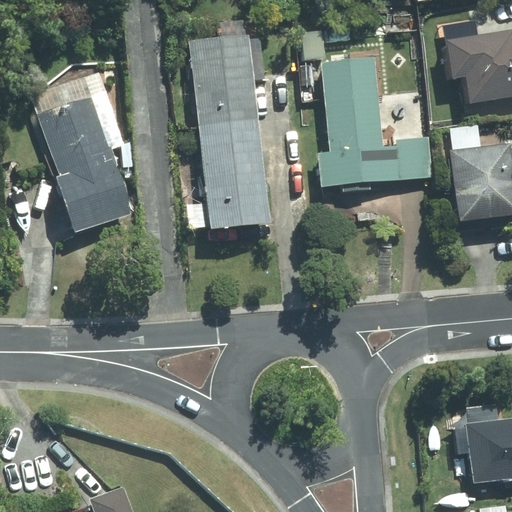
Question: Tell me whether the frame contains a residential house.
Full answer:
Yes, a residential house appears in the view.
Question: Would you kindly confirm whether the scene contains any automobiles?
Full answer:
Yes, this view includes an automobile.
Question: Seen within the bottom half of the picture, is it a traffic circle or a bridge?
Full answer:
There is a traffic circle within the bottom half of the picture.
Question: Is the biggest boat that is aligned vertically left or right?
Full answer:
The biggest boat that is aligned vertically sits on the left side.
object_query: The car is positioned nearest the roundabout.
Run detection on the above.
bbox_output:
[174,396,202,416]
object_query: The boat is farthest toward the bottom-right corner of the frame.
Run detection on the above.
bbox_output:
[430,494,474,508]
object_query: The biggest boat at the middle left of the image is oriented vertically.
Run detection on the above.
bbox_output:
[10,188,30,239]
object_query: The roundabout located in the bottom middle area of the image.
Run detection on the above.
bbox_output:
[250,357,342,447]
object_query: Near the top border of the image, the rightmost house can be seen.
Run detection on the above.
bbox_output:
[440,22,512,110]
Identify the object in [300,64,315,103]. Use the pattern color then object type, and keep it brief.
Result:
gray vehicle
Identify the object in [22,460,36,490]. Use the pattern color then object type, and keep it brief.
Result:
white car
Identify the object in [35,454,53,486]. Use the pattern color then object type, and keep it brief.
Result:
white car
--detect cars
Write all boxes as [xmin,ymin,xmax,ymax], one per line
[174,396,202,416]
[35,454,53,486]
[1,427,24,460]
[285,132,300,162]
[274,76,288,106]
[290,164,304,192]
[46,440,73,468]
[74,466,102,494]
[209,228,237,242]
[4,462,22,491]
[258,223,270,245]
[496,242,512,255]
[487,334,512,348]
[256,86,268,116]
[22,460,36,490]
[496,4,512,20]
